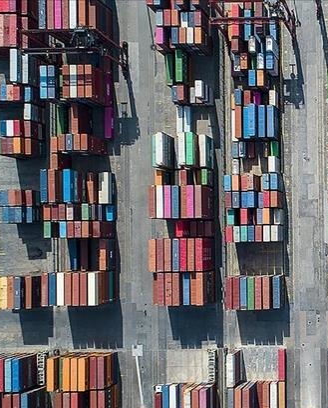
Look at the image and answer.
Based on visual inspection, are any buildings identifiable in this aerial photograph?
No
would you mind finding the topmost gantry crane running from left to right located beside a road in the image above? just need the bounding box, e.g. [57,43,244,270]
[208,0,299,45]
